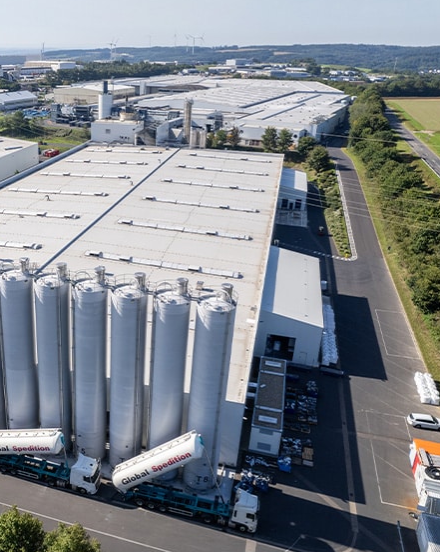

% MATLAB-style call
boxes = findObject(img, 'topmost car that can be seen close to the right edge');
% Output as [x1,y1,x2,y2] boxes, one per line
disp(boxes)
[413,412,440,432]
